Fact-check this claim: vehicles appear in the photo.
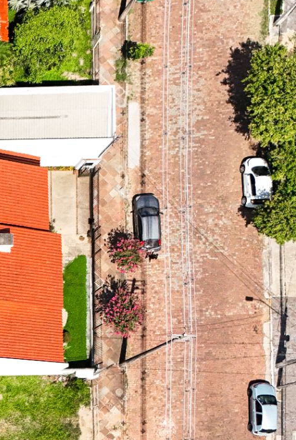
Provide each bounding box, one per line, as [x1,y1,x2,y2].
[247,382,283,436]
[130,193,167,258]
[240,154,276,211]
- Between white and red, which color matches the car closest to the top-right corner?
white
